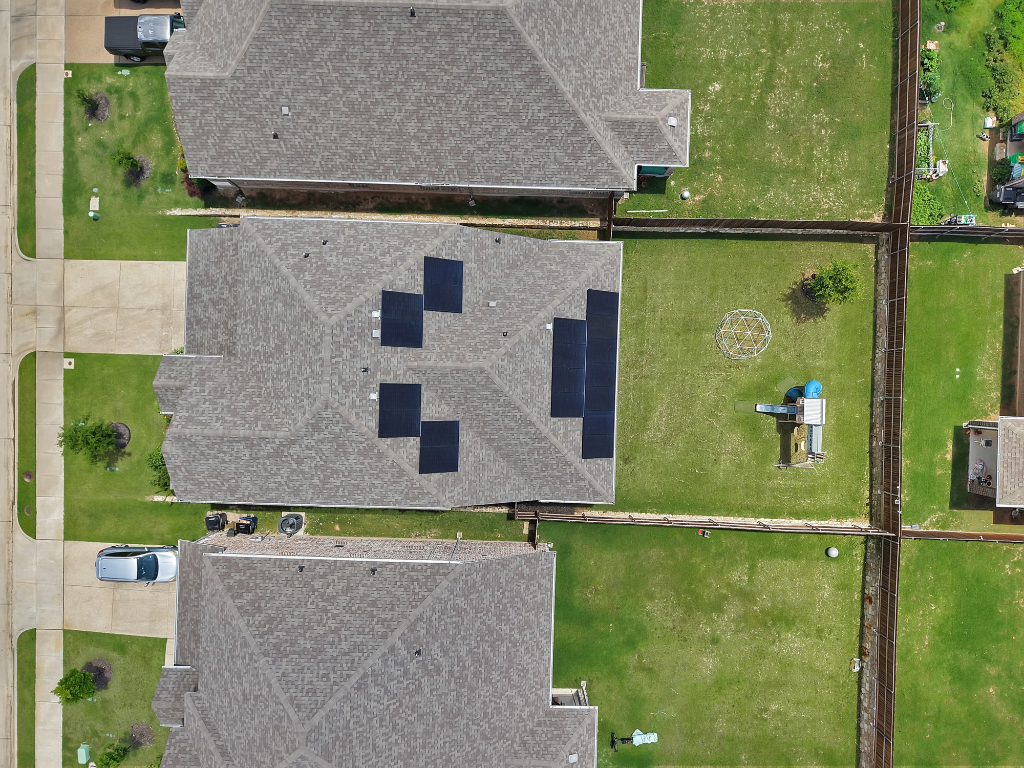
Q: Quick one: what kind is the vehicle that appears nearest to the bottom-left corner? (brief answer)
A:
car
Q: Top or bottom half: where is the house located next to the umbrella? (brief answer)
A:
bottom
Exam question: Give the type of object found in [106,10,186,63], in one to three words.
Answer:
truck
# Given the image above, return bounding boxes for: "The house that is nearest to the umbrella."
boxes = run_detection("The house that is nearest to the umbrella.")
[152,528,601,768]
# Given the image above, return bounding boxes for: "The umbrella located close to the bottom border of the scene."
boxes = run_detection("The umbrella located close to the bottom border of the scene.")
[610,728,659,751]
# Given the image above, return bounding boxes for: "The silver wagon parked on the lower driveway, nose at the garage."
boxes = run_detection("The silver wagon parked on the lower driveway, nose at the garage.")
[93,541,174,590]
